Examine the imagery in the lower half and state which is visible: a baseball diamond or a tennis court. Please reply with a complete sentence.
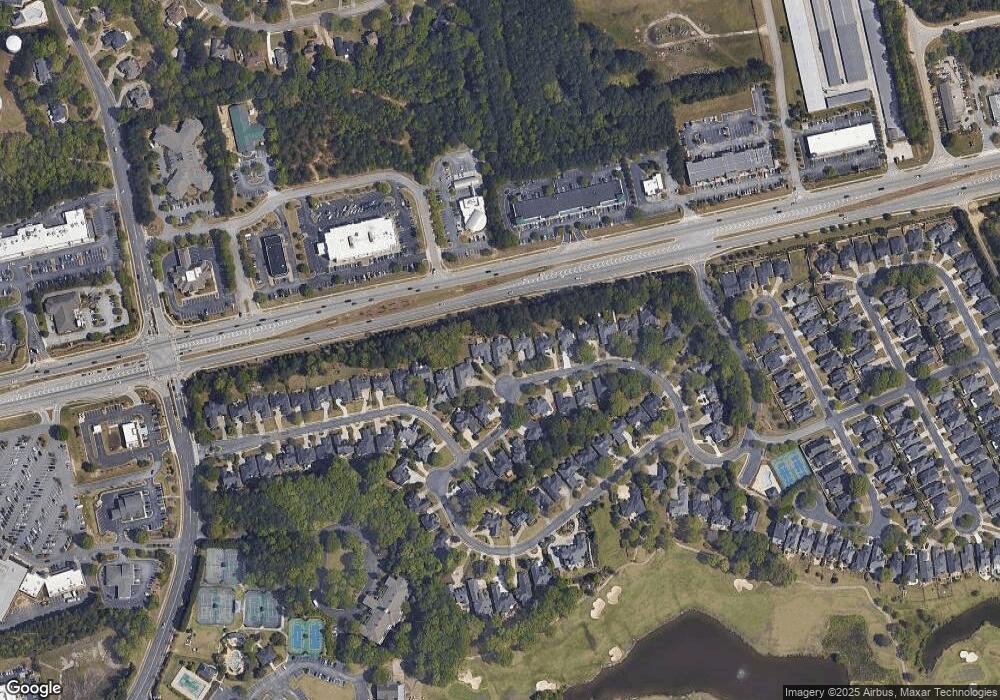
You can see a tennis court in the lower half.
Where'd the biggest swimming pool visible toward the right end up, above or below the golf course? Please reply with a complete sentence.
The biggest swimming pool visible toward the right is found above the golf course in the photo.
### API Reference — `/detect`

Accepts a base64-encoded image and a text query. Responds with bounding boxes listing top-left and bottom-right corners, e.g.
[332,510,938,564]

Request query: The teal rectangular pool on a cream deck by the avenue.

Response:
[171,667,211,700]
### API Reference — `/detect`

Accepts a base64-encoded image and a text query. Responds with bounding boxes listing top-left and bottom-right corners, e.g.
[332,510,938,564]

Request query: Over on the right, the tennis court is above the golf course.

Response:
[771,449,812,488]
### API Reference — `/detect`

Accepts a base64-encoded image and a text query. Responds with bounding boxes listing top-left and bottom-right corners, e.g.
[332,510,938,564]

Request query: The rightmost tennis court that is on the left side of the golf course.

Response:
[288,618,325,655]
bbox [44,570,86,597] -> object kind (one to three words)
building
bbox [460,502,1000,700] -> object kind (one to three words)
golf course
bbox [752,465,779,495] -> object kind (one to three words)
swimming pool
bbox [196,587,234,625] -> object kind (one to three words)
tennis court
